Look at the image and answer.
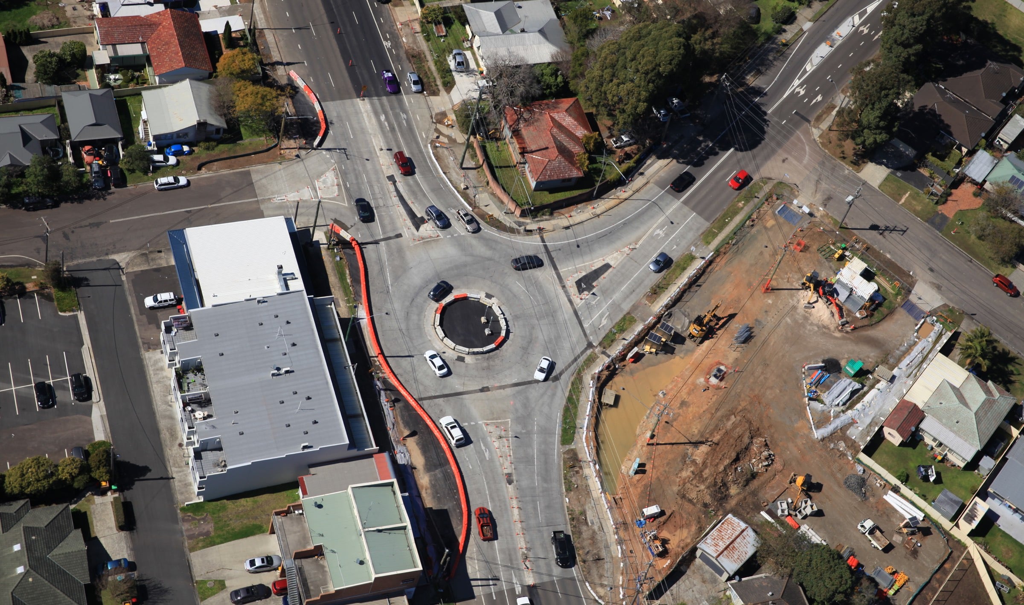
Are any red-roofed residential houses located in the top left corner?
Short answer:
Yes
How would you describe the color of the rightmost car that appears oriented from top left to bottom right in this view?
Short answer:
red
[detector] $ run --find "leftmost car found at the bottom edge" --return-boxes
[96,557,134,579]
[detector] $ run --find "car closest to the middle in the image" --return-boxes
[510,254,544,272]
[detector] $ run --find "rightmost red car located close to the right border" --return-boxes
[989,272,1022,299]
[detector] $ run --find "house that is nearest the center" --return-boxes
[507,97,592,192]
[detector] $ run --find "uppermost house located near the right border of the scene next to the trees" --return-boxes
[943,61,1024,121]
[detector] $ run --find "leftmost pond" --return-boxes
[596,357,704,499]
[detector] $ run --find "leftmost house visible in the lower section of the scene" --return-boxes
[0,499,90,605]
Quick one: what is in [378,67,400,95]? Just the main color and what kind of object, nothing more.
purple truck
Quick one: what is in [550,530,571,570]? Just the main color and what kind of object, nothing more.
black truck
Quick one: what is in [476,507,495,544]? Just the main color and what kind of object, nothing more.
red vehicle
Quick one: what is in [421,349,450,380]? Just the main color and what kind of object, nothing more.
white car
